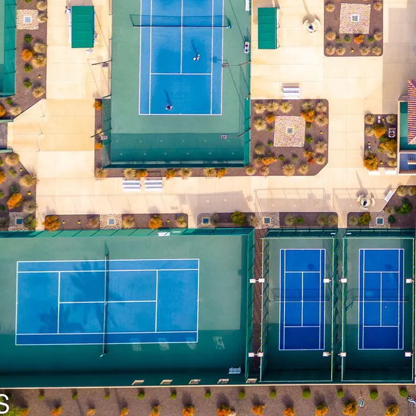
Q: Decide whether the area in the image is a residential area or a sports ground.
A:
sports ground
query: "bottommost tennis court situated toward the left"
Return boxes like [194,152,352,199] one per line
[0,231,253,373]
